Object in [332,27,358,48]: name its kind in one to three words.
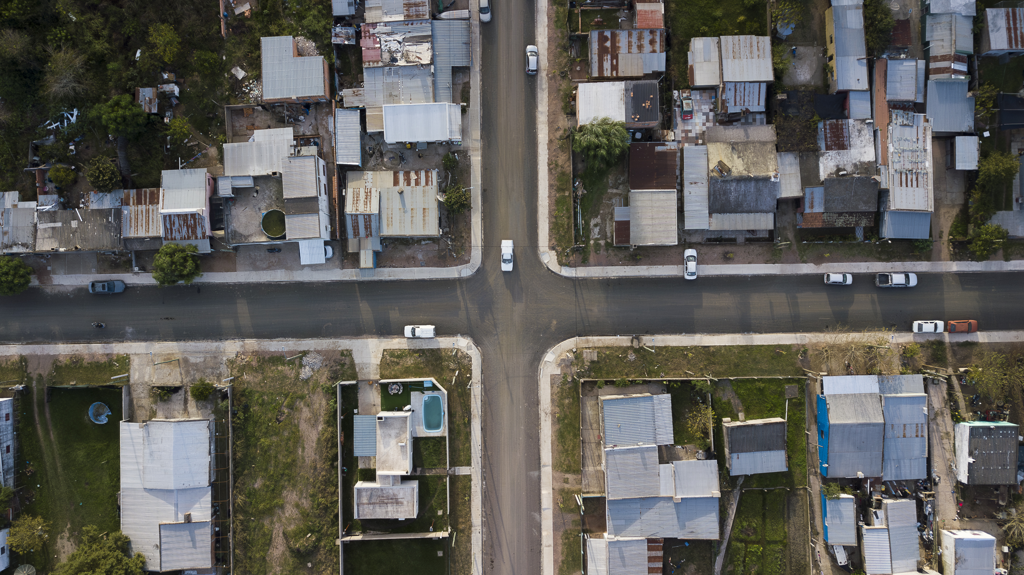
shed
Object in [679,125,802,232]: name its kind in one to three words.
house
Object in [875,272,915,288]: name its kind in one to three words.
vehicle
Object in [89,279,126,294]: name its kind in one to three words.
car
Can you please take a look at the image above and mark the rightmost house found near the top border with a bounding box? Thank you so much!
[974,8,1024,56]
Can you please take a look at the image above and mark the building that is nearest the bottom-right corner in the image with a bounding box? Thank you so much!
[941,530,997,575]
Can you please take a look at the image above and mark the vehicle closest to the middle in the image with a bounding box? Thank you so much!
[500,239,513,272]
